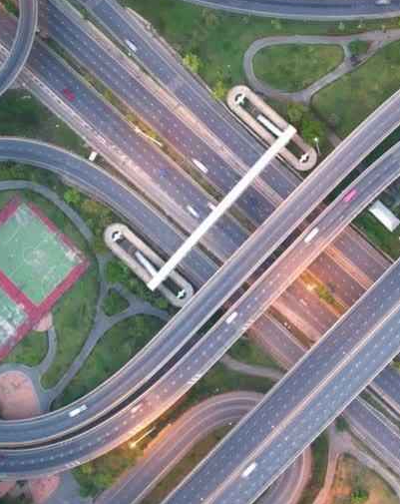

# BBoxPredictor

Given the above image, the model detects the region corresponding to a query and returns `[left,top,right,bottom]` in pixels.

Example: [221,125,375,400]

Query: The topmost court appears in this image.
[0,196,90,315]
